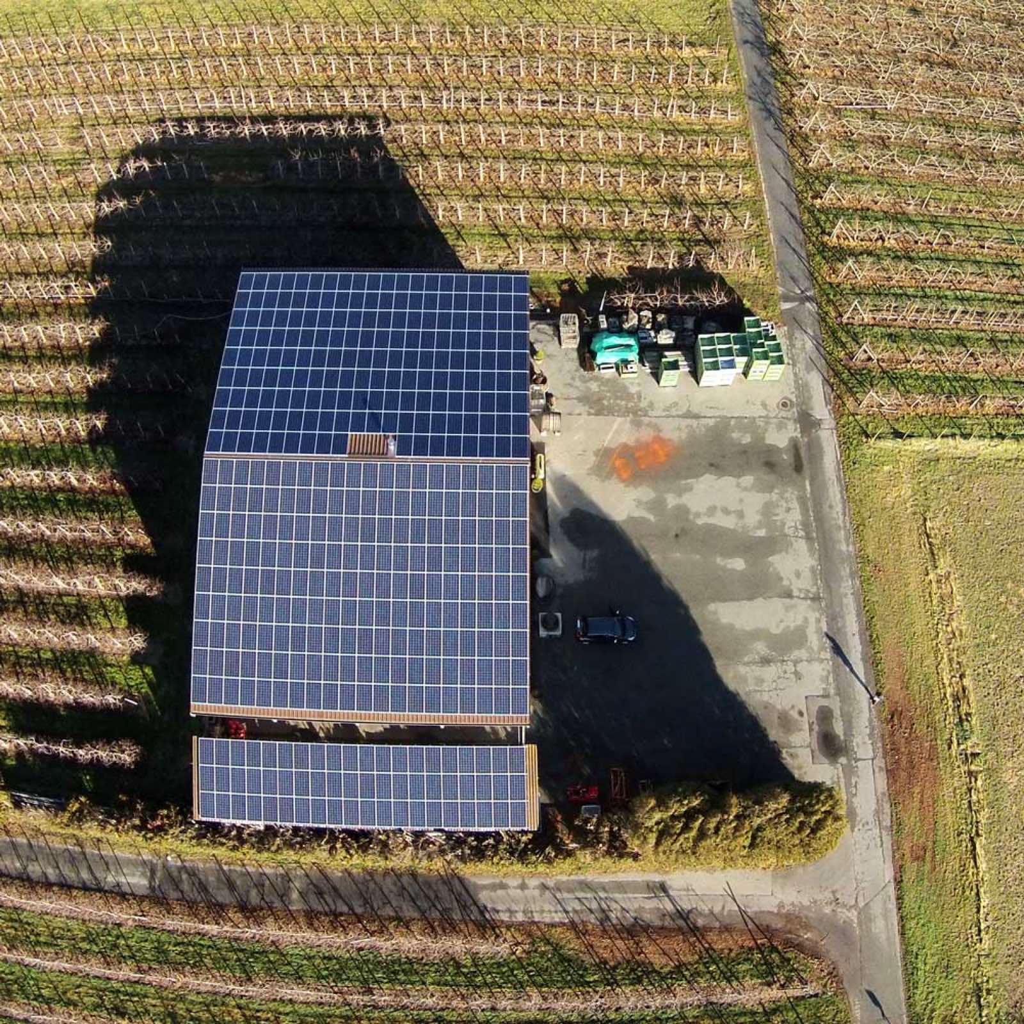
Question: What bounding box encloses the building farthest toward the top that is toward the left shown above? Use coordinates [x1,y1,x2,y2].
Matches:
[188,266,534,753]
